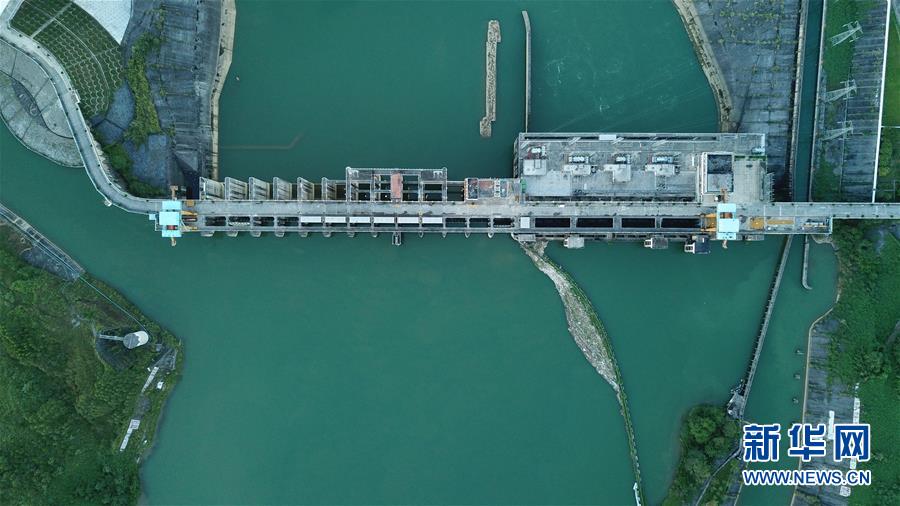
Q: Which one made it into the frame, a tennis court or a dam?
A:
dam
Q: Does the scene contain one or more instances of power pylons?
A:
Yes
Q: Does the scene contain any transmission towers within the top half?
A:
Yes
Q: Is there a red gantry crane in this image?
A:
No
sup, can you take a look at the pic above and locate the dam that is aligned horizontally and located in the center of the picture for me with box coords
[150,167,836,246]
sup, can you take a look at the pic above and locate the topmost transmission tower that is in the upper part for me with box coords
[828,19,863,47]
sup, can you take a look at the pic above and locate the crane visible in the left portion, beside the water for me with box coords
[150,187,198,249]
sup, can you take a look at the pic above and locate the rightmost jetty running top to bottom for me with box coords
[800,235,812,290]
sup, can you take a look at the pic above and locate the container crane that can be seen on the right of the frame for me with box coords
[700,187,741,249]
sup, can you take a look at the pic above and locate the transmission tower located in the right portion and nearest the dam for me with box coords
[817,123,850,144]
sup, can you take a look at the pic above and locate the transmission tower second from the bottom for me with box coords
[822,76,856,99]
